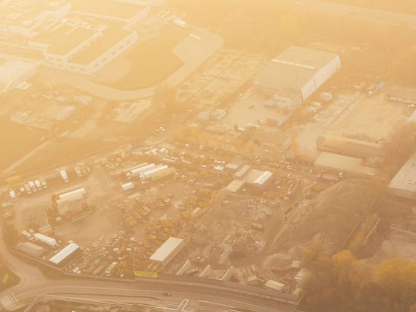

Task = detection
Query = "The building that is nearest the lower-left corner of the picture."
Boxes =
[19,242,47,259]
